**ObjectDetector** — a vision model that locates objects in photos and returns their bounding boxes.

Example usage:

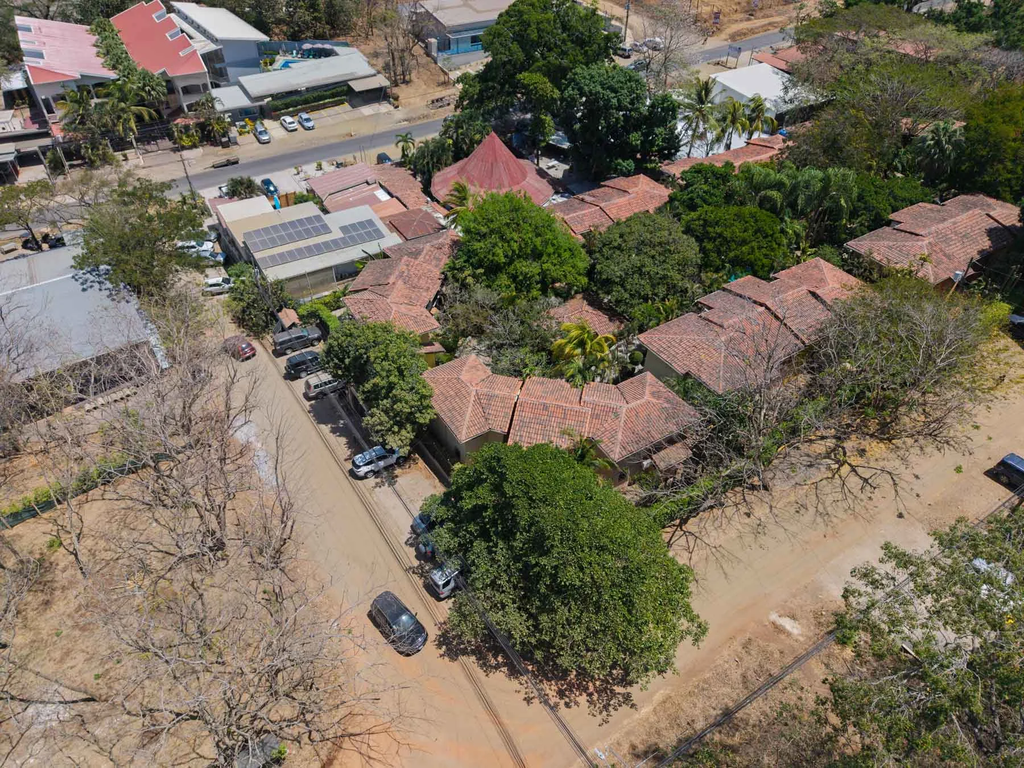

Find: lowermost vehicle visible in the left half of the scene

[371,588,431,660]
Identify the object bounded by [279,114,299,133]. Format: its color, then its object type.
white car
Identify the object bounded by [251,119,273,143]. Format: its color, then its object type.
gray car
